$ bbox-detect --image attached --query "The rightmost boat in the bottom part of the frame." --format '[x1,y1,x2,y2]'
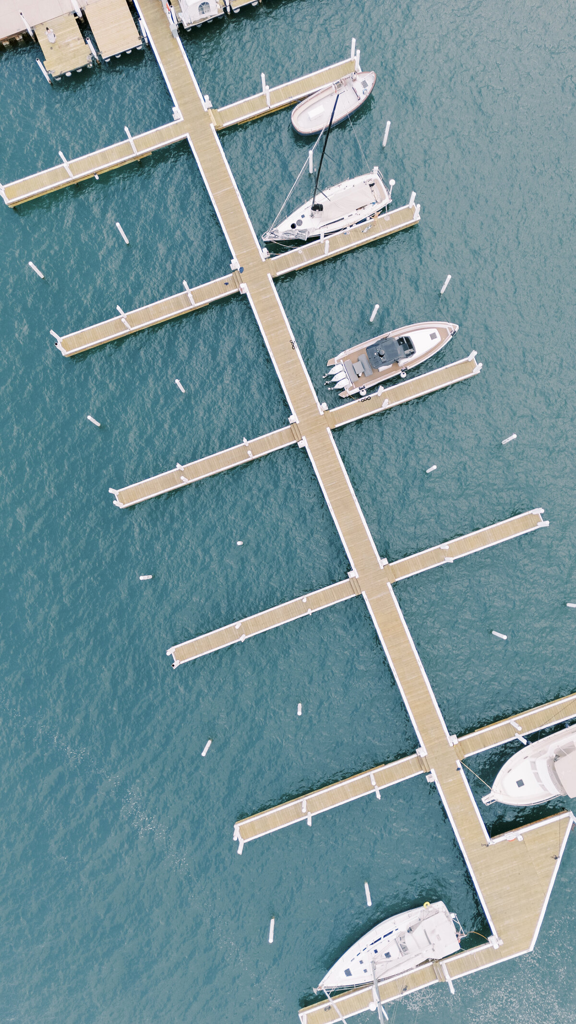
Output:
[481,721,576,807]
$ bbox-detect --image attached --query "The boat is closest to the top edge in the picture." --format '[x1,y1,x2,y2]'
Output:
[290,71,377,133]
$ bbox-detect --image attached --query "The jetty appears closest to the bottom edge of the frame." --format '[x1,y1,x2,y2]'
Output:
[299,961,447,1024]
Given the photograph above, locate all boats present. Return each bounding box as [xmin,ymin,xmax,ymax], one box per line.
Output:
[325,323,460,398]
[260,91,397,244]
[310,899,465,1024]
[481,721,576,807]
[290,71,377,133]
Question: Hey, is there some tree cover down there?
No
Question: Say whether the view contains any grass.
No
